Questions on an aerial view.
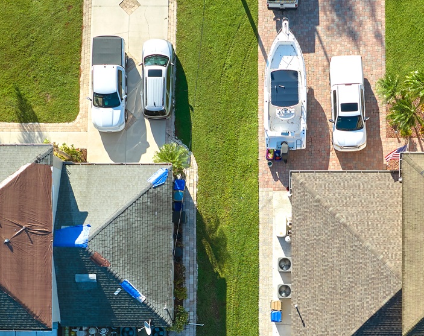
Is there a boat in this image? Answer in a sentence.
Yes, a boat is visible in the scene.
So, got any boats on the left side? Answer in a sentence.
No, there is no boat on the left side.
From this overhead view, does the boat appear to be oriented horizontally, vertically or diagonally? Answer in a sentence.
Seen from above, the boat lies vertically.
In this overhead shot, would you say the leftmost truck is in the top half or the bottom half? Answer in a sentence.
The top half of the photo is where the leftmost truck is.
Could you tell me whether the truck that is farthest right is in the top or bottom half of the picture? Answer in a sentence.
You can find the truck that is farthest right in the top half.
